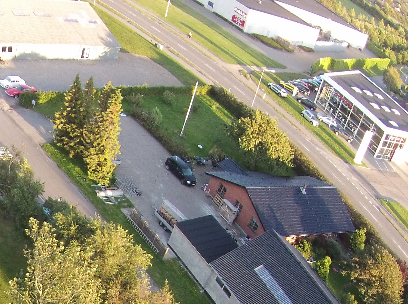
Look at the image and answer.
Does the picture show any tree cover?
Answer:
Yes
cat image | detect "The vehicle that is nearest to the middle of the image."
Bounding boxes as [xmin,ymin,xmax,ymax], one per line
[165,158,197,184]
